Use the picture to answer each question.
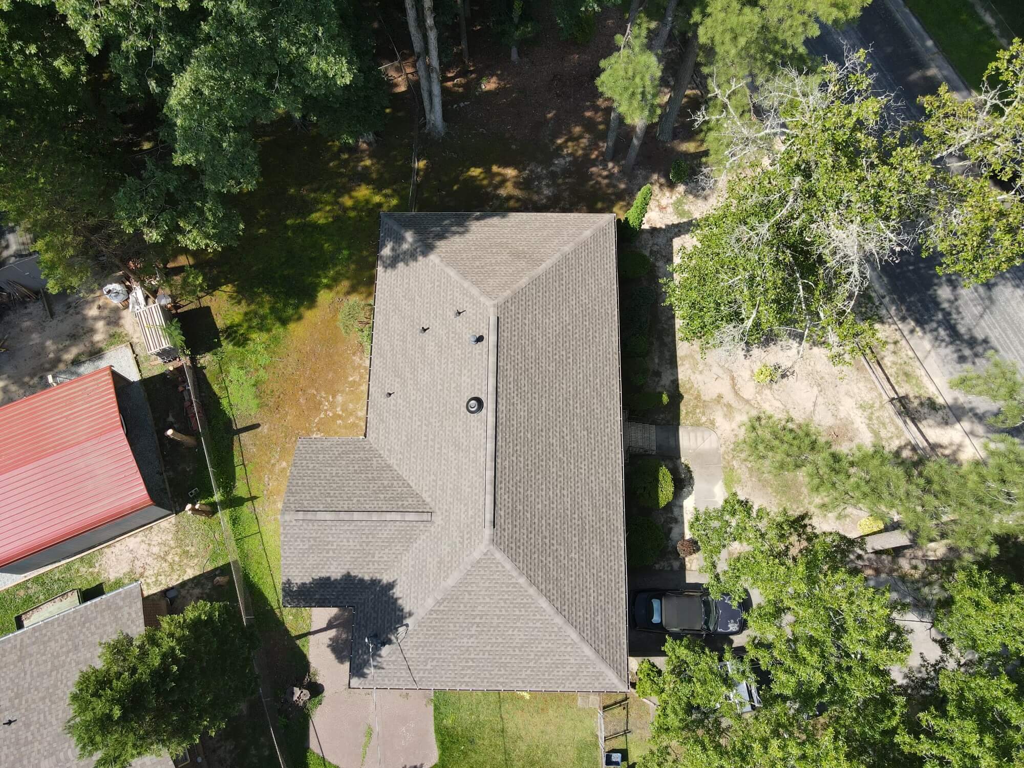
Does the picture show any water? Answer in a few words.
No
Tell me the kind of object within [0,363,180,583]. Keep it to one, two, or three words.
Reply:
shed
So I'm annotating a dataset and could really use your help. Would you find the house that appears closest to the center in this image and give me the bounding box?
[282,210,632,695]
